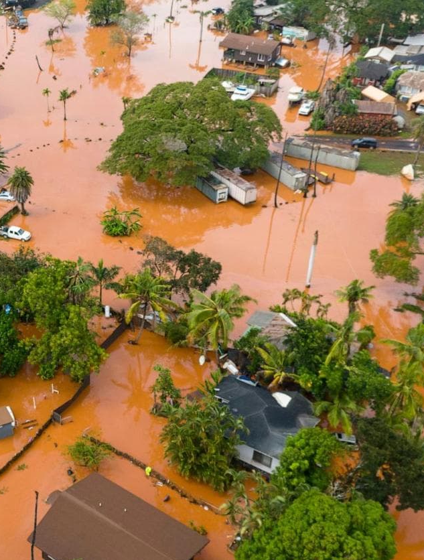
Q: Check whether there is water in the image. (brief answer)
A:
Yes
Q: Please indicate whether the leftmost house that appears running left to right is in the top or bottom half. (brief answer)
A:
bottom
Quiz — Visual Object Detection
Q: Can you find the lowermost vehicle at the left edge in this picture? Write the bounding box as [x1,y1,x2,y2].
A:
[0,223,32,239]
